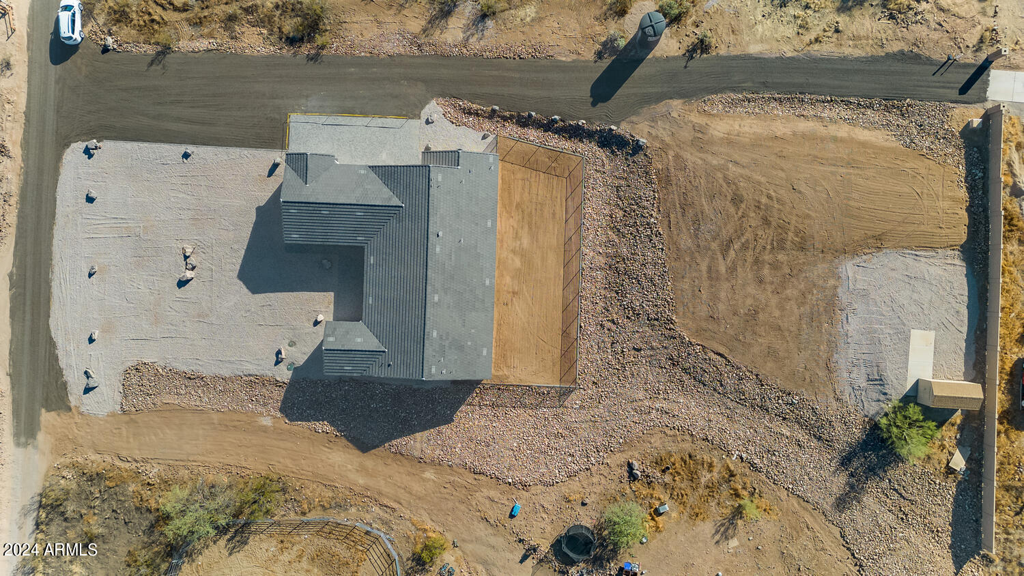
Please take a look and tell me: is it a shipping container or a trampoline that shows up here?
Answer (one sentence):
This aerial view contains a trampoline.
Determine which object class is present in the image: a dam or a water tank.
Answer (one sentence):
Visible in the photo is a water tank.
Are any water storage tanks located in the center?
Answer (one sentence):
No, in the center there is no water storage tank.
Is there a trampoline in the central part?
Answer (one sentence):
No, no trampoline can be made out in the central part.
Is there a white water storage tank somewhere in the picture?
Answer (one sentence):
No, there isn't any white water storage tank down there.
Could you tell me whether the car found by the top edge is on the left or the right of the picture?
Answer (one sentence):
The car found by the top edge appears in the left half of the scene.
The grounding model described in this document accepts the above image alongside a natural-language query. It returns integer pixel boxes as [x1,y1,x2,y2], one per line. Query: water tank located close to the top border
[634,14,666,52]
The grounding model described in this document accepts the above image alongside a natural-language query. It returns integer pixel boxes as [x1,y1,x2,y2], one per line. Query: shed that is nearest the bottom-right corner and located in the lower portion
[917,378,985,409]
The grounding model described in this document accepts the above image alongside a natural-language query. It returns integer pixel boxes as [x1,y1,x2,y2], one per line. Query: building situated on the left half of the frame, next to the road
[279,148,500,383]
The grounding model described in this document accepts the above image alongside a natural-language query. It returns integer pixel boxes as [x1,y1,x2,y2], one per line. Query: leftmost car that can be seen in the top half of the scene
[55,0,85,43]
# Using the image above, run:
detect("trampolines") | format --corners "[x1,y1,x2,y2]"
[562,524,596,565]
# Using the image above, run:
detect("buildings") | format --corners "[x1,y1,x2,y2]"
[917,378,985,409]
[279,148,500,383]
